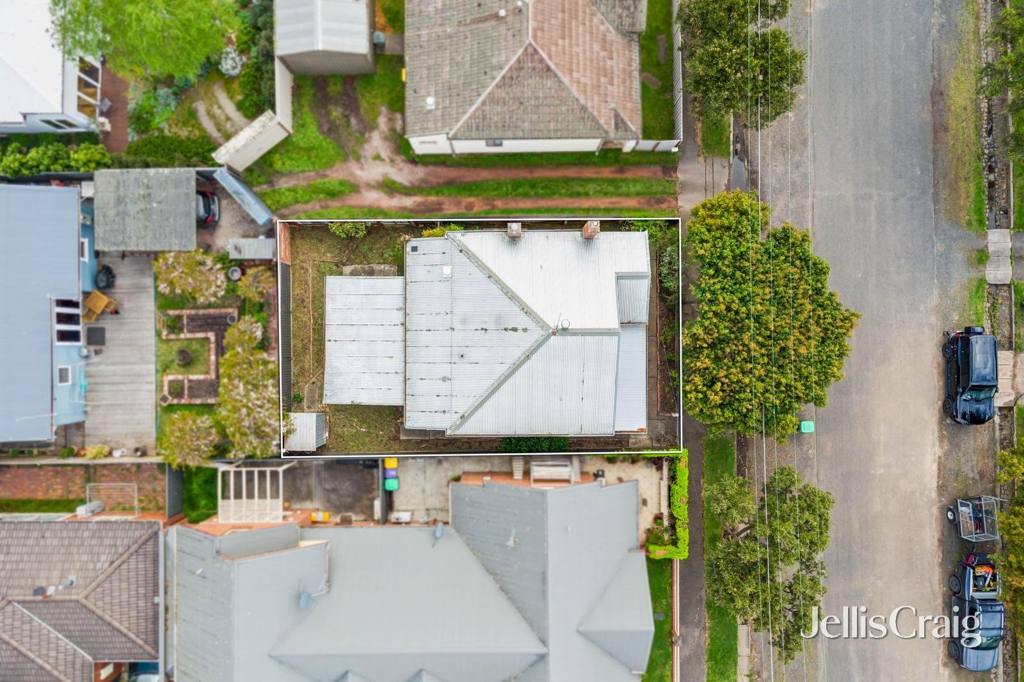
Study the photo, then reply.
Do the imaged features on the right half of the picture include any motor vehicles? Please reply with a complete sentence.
Yes, I can see a motor vehicle on the right half of the picture.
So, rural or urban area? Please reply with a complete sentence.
It looks urban.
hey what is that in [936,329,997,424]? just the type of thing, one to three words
car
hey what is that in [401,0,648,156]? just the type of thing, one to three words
house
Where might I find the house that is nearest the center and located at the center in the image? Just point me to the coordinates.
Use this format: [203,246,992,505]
[322,219,653,439]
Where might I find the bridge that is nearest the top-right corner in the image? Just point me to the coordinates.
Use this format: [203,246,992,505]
[985,229,1012,283]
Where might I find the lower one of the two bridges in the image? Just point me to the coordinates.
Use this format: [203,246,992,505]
[993,351,1014,406]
